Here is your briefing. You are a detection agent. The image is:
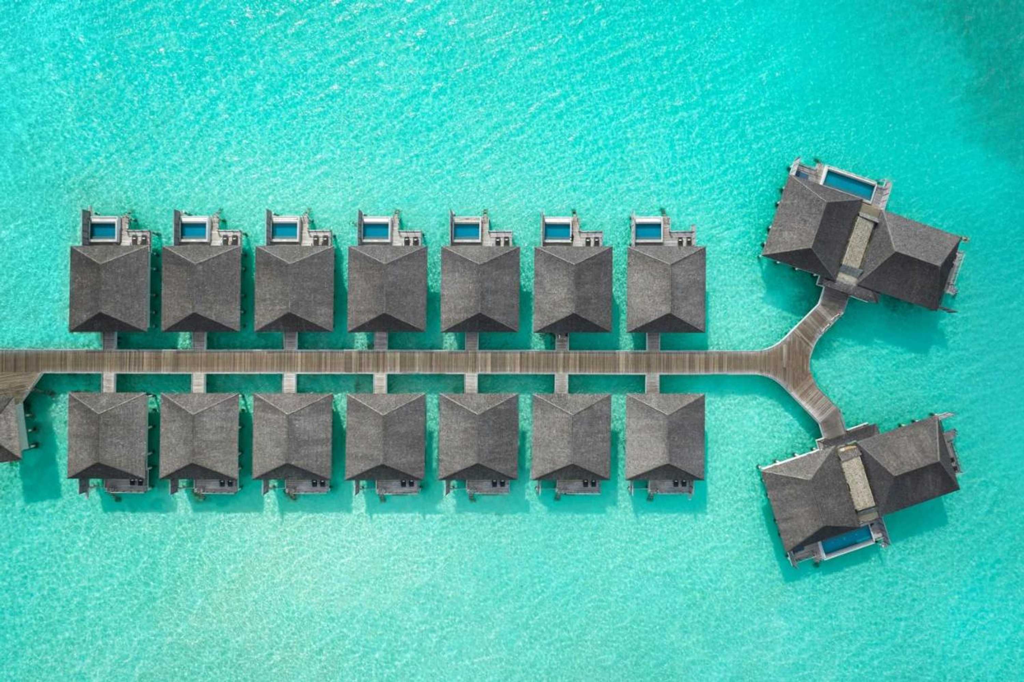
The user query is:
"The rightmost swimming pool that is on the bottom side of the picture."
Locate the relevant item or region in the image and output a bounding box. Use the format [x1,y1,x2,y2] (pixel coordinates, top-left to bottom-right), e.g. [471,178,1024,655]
[821,525,873,556]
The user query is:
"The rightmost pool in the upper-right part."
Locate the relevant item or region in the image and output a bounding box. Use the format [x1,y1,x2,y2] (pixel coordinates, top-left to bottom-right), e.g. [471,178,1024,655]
[823,169,875,202]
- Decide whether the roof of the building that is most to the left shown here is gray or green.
gray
